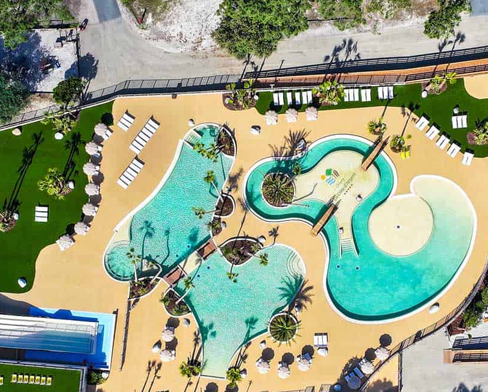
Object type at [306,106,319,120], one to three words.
umbrella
